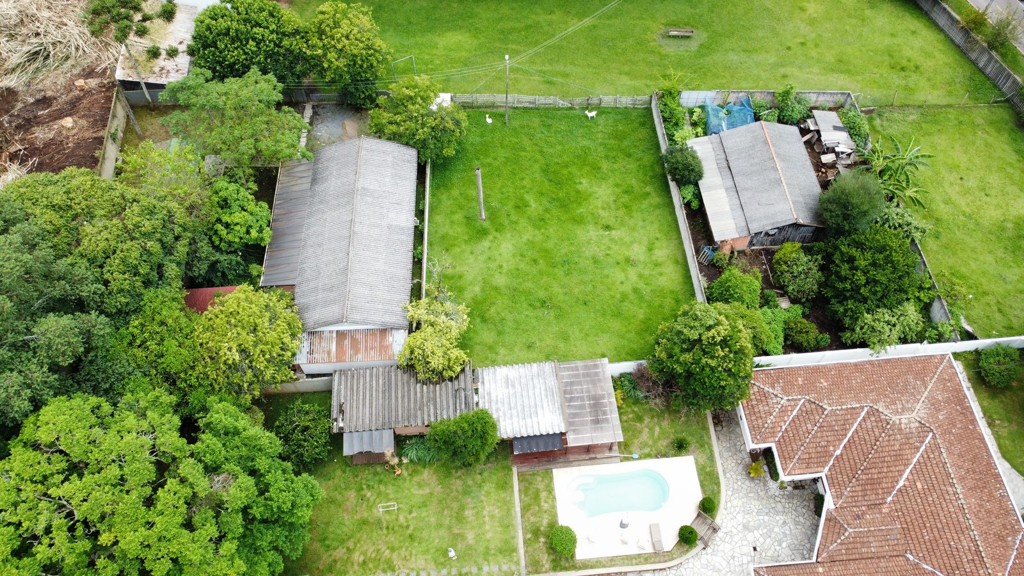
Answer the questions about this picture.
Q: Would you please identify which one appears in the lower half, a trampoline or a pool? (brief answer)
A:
pool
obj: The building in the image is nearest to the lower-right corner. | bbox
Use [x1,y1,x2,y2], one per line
[728,351,1024,576]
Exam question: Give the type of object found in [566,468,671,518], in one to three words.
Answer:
swimming pool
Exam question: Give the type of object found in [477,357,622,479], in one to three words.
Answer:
building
